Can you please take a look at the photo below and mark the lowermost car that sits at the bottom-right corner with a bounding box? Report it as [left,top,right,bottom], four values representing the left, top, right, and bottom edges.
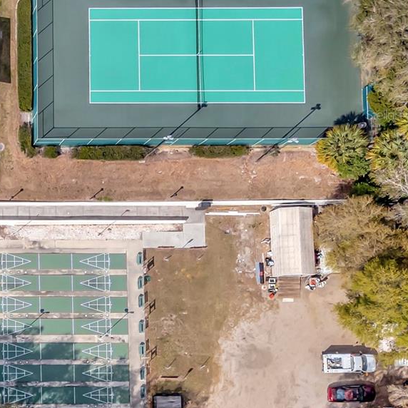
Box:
[329,382,379,405]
